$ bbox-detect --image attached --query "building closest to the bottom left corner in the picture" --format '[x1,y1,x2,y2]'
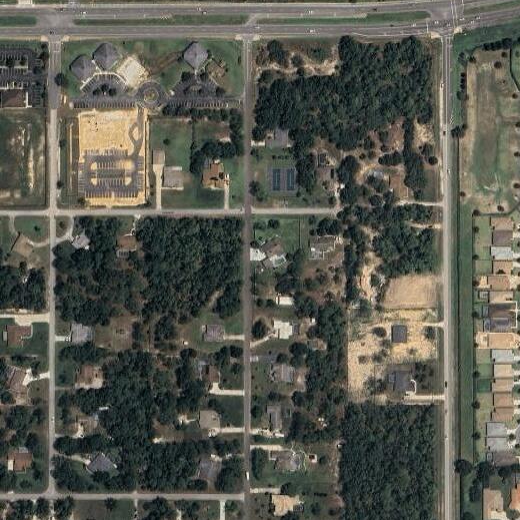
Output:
[10,449,29,472]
